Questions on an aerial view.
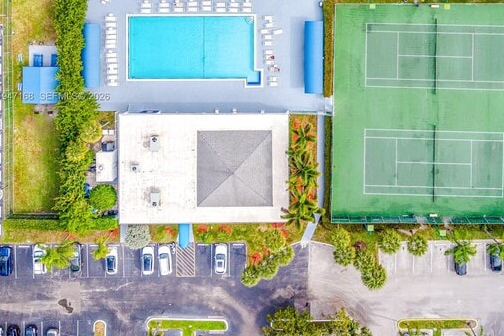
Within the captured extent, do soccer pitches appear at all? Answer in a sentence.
No, there isn't any soccer pitch down there.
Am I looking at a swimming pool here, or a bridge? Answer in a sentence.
Visible in the photo is a swimming pool.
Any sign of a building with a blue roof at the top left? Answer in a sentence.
Yes, at the top left there is a building with a blue roof.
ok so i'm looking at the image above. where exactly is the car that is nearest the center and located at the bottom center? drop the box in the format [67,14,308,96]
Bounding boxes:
[215,243,228,272]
